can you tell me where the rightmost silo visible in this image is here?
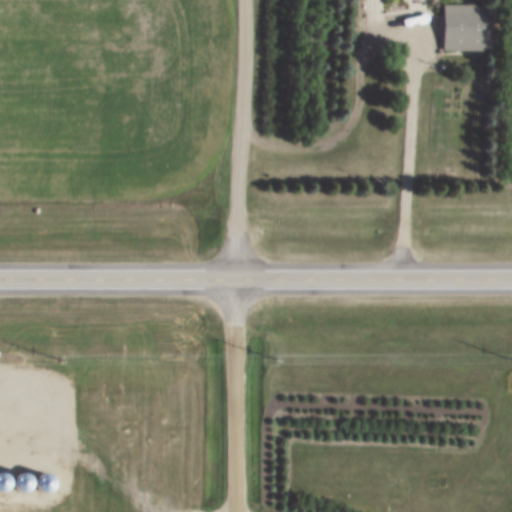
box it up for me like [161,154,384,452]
[39,472,60,493]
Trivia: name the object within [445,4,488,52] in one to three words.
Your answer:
house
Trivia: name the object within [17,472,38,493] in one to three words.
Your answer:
silo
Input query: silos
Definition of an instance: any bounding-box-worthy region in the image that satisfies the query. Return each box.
[39,472,60,493]
[17,472,38,493]
[0,472,16,493]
